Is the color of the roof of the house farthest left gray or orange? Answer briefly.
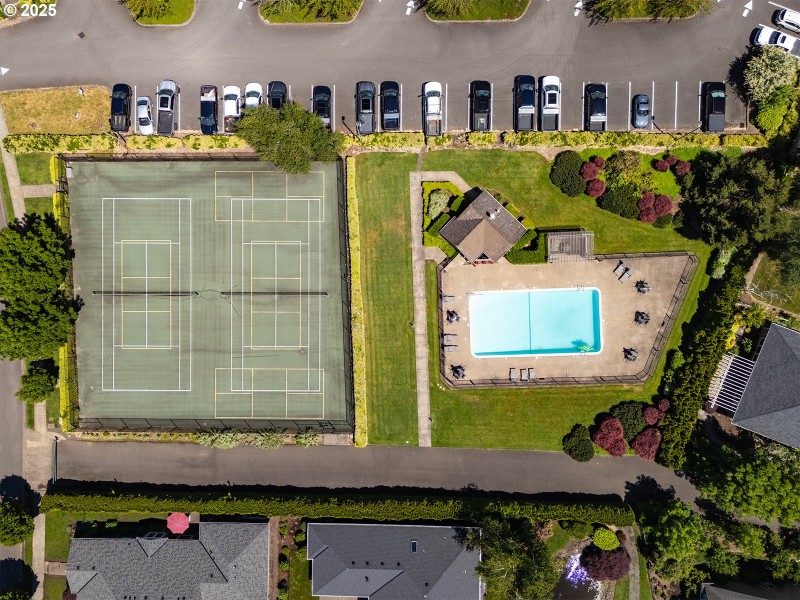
gray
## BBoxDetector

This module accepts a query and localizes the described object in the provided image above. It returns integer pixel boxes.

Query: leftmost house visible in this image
[64,517,270,600]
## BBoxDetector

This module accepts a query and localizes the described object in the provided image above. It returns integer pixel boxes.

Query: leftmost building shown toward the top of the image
[442,190,527,265]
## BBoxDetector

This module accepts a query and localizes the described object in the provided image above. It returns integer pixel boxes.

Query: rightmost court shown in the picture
[197,162,352,427]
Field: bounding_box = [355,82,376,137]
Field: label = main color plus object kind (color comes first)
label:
gray truck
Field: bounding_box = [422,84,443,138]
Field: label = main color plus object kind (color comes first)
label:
white truck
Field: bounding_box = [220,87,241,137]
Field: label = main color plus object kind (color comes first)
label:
white truck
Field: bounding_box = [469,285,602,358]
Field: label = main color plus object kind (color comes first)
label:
white swimming pool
